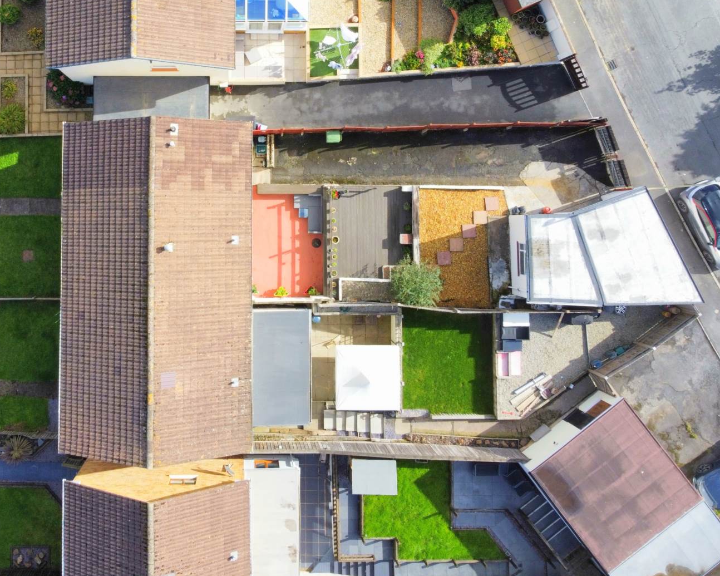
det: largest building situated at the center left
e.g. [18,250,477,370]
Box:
[56,116,256,470]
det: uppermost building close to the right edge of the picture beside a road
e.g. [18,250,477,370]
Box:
[506,188,703,307]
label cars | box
[673,184,720,269]
[694,457,720,510]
